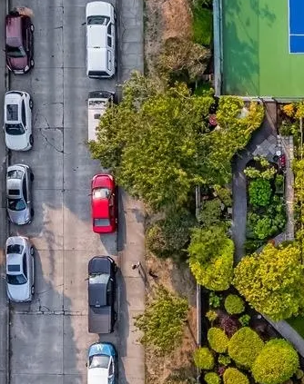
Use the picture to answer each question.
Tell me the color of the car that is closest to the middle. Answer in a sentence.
From above, the car that is closest to the middle appears red.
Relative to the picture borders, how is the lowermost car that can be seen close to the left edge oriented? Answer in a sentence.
In this picture, the lowermost car that can be seen close to the left edge lies from top to bottom.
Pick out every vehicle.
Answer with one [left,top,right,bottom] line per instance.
[84,90,117,142]
[84,342,118,384]
[2,90,35,151]
[3,235,37,302]
[87,174,119,234]
[2,164,36,225]
[84,256,118,334]
[83,2,116,78]
[2,12,36,74]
